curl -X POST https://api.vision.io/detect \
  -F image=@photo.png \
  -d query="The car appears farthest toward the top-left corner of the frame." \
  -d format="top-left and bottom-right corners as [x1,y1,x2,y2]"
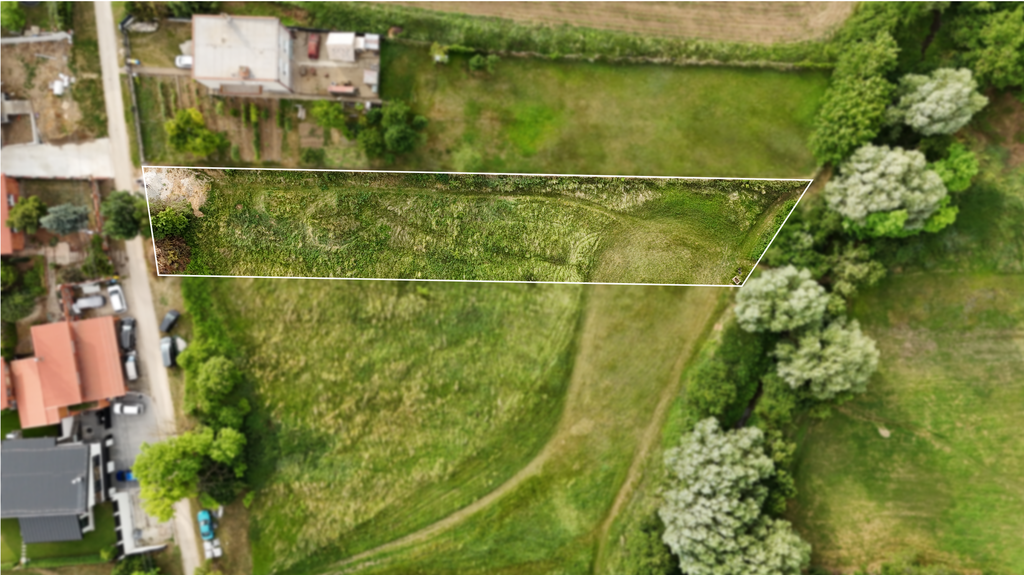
[175,55,193,69]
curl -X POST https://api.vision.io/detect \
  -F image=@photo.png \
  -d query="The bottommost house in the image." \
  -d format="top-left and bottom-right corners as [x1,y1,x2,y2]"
[0,432,112,518]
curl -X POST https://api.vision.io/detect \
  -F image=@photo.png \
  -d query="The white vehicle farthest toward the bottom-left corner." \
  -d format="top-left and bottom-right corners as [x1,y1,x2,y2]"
[115,402,147,416]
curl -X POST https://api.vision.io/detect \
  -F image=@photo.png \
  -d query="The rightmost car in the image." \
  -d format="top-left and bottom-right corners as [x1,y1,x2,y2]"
[307,33,322,61]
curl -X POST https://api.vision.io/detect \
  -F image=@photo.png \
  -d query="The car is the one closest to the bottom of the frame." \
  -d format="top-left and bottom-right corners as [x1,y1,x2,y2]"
[197,509,215,541]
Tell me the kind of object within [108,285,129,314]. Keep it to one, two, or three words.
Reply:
car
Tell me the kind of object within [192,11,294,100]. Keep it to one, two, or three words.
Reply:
house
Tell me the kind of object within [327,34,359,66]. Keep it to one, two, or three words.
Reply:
gazebo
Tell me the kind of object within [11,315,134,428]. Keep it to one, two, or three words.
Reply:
house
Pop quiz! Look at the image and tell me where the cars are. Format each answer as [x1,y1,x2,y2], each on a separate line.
[197,509,215,541]
[115,402,147,416]
[77,296,107,310]
[108,285,129,314]
[117,469,134,483]
[120,317,137,349]
[175,55,193,69]
[307,33,322,61]
[124,351,141,380]
[158,309,181,334]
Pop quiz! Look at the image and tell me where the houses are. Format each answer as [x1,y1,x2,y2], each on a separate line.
[192,11,294,100]
[0,173,24,254]
[0,432,112,518]
[11,315,134,428]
